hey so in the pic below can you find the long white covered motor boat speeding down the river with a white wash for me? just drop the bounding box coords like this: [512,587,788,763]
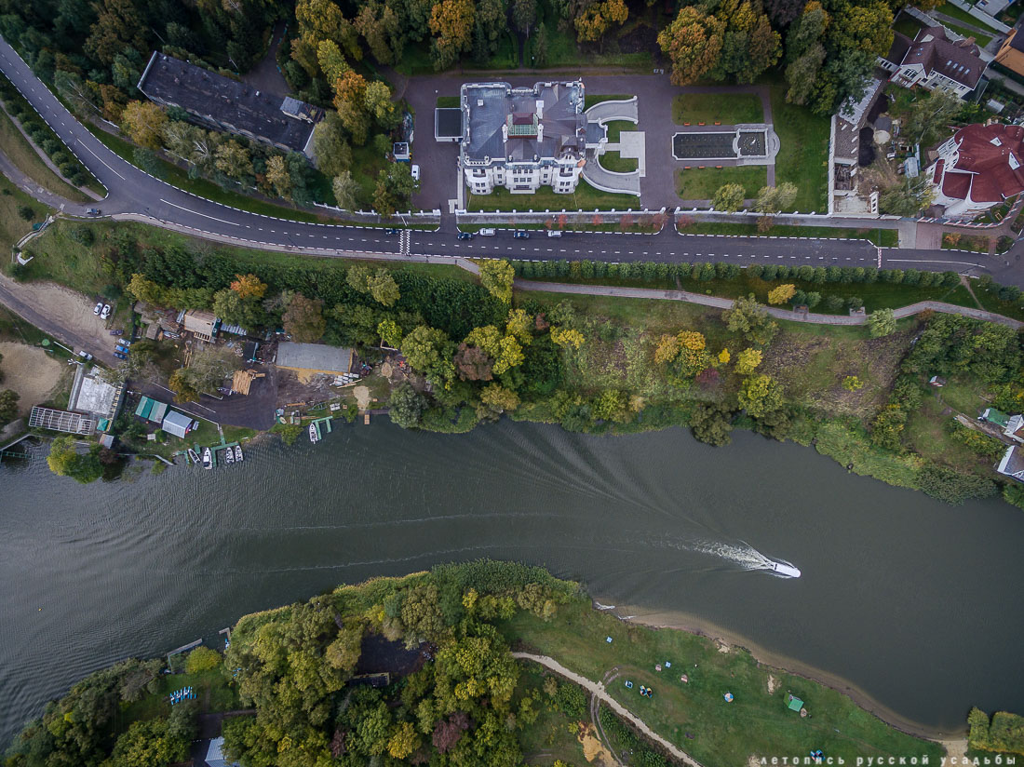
[765,560,802,578]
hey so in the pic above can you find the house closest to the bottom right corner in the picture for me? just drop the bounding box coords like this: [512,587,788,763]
[989,444,1024,486]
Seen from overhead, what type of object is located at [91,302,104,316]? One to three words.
vehicle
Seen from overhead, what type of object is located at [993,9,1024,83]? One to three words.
house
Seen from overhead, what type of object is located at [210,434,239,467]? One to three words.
pier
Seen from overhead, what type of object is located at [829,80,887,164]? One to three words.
shed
